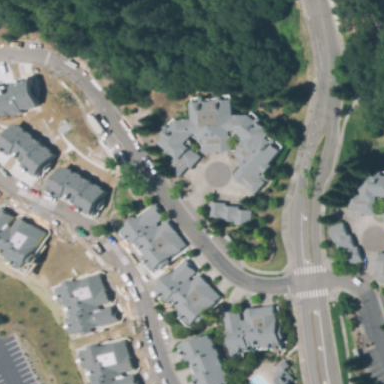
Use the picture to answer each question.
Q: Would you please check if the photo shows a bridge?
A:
No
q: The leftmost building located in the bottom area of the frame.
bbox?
[0,209,49,270]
